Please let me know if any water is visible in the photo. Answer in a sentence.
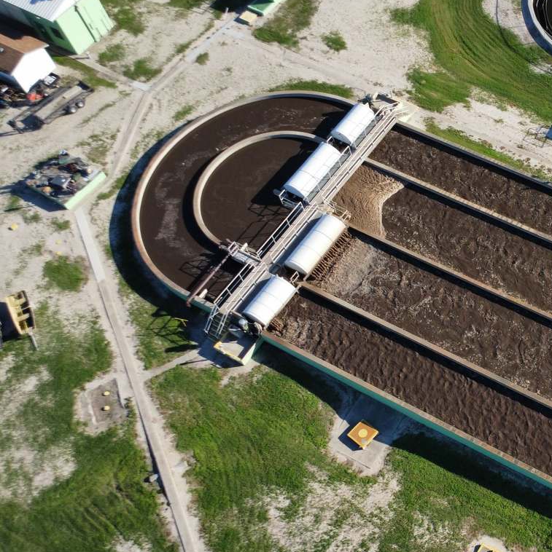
Yes, the picture does contain water.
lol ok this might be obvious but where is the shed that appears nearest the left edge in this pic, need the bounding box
[0,25,56,91]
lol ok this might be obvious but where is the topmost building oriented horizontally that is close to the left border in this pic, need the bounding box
[0,0,114,54]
